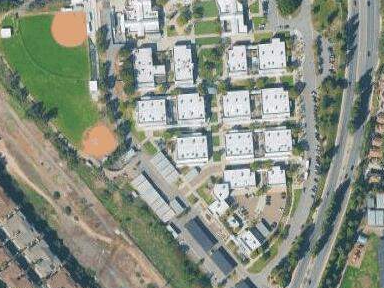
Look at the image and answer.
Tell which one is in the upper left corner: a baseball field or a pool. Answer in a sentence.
The feature located in the upper left corner is a baseball field.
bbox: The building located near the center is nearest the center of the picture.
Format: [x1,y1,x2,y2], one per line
[176,136,208,165]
